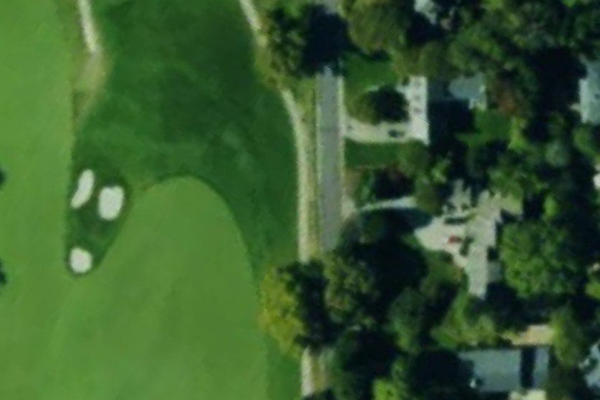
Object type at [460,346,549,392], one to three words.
house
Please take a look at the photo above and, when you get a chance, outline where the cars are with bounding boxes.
[385,131,402,138]
[444,235,461,244]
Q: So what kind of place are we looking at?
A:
golf course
